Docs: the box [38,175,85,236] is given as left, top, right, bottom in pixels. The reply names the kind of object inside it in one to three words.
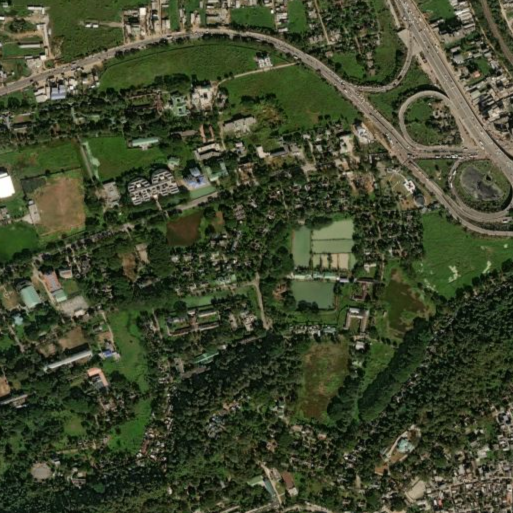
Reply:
sports field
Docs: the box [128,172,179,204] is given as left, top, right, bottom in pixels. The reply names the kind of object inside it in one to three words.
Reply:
building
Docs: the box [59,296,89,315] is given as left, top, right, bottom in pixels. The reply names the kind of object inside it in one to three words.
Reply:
building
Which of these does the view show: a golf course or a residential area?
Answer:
residential area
